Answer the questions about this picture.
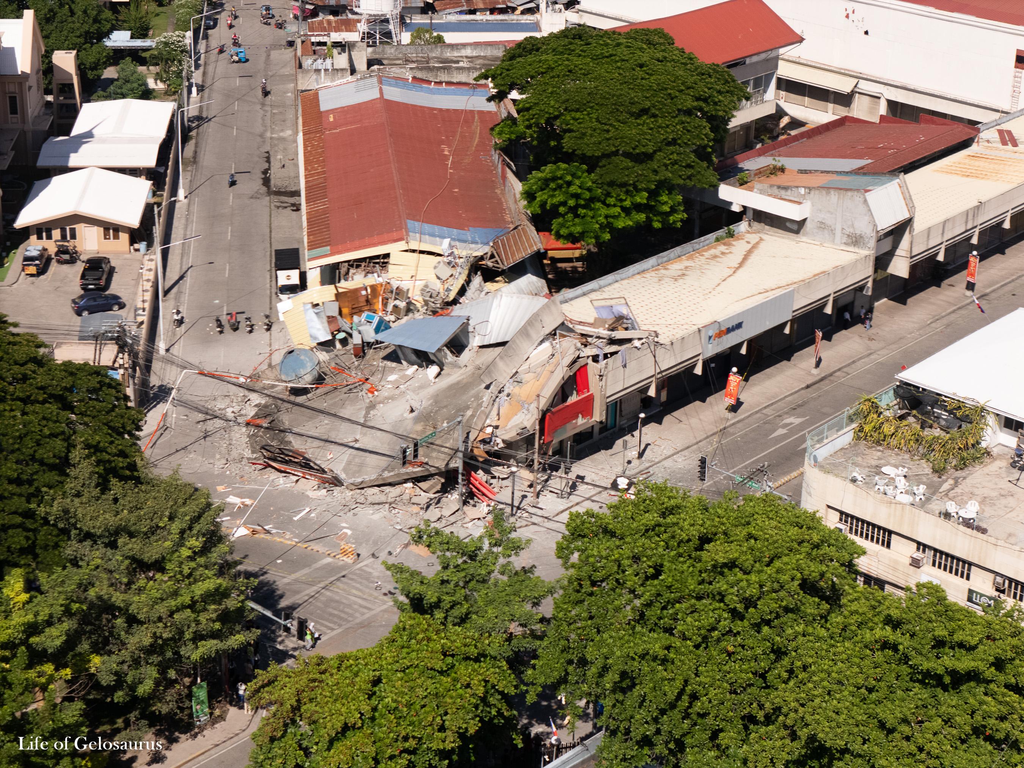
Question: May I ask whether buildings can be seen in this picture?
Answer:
Yes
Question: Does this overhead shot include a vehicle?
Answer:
Yes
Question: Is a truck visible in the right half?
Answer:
No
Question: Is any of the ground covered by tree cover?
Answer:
Yes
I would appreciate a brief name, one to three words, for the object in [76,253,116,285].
truck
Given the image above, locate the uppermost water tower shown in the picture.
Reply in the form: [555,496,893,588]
[349,0,410,47]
